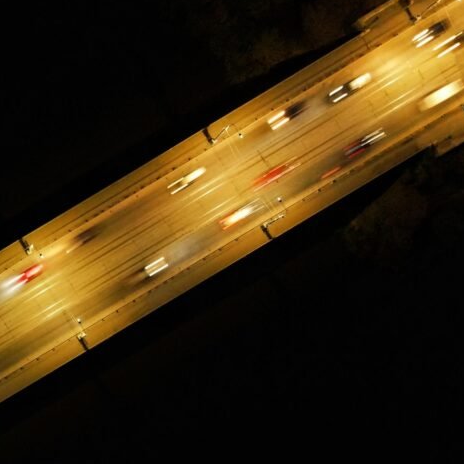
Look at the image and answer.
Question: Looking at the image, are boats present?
No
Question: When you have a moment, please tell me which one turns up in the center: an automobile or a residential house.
automobile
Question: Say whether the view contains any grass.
No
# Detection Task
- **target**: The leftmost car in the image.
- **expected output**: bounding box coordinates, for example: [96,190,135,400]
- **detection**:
[17,264,44,285]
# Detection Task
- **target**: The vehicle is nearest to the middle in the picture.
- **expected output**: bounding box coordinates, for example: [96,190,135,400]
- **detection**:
[220,209,247,230]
